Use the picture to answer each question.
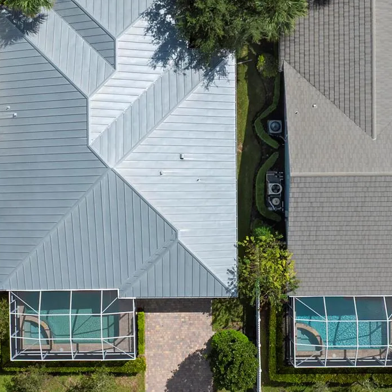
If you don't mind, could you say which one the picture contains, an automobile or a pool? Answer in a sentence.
This aerial view contains a pool.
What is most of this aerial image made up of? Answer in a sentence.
For the most part, this view shows buildings.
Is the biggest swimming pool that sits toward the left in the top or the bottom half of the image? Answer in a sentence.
The bottom half of the photo is where the biggest swimming pool that sits toward the left is.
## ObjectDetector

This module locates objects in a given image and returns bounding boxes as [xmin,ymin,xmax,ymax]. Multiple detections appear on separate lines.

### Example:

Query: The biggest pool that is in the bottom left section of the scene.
[20,293,123,347]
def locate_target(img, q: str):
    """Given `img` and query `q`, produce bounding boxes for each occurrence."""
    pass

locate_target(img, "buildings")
[0,0,239,298]
[278,0,392,297]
